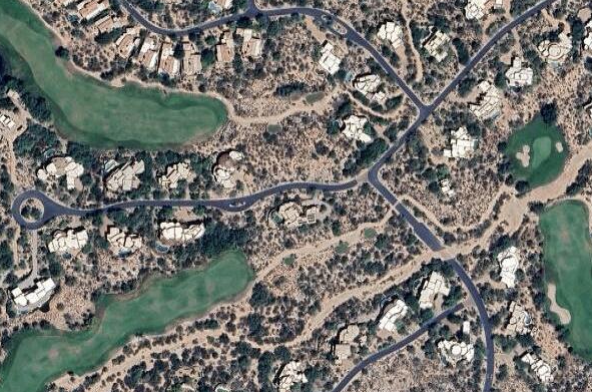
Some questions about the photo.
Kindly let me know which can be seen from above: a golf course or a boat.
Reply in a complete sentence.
This aerial view contains a golf course.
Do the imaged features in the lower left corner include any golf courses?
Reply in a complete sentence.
Yes, a golf course shows up in the lower left corner.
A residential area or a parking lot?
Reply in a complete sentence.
What you see here is a residential area.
